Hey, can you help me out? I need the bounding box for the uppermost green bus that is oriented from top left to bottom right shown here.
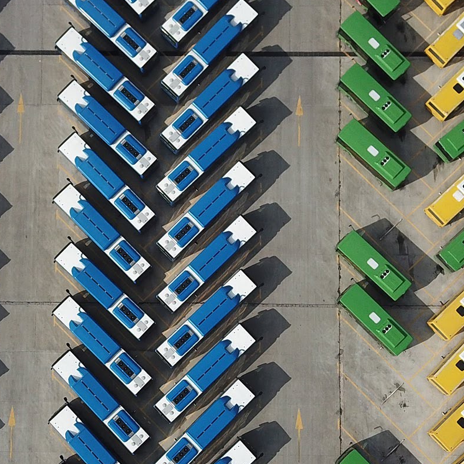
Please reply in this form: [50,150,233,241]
[337,8,409,87]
